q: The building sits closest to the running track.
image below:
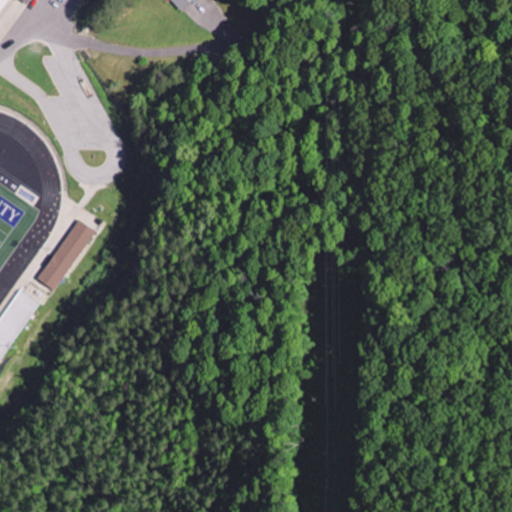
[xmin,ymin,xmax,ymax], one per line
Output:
[36,219,96,292]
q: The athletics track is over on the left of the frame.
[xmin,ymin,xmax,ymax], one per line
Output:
[0,113,62,302]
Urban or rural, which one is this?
rural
